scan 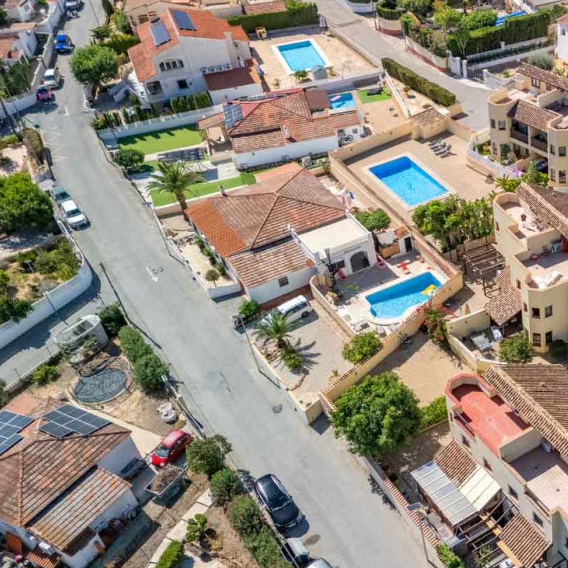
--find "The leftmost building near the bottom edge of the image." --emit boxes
[0,400,141,568]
